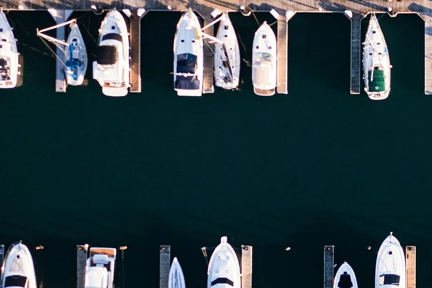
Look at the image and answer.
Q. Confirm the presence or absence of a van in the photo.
No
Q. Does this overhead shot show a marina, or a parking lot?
marina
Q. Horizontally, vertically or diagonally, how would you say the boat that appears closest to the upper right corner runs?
vertically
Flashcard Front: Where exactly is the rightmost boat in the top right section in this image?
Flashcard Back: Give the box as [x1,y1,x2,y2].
[360,14,392,100]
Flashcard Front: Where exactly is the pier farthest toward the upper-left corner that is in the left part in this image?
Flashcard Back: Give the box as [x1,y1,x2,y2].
[54,10,75,92]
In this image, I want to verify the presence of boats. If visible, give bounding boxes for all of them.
[0,241,40,288]
[94,9,133,97]
[360,14,392,100]
[375,233,406,288]
[36,18,88,86]
[252,21,277,96]
[86,248,116,288]
[0,9,19,88]
[199,10,241,90]
[208,236,241,288]
[333,260,358,288]
[170,258,186,288]
[173,9,205,96]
